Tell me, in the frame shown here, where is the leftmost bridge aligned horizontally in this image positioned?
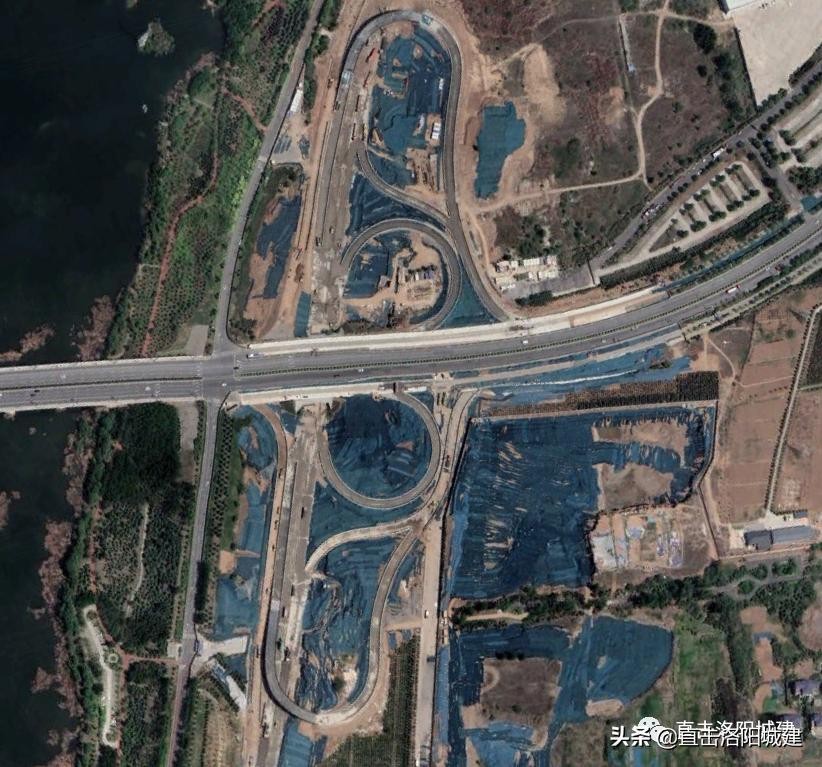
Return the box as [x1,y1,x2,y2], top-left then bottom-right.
[0,361,118,411]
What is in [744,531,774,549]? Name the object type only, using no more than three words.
house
